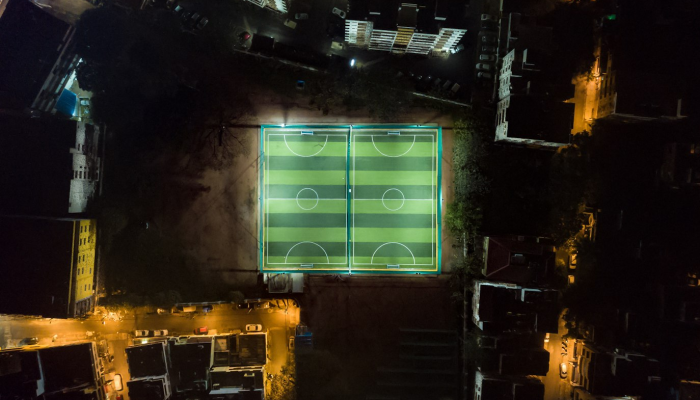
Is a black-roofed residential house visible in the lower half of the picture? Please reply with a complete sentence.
Yes, a black-roofed residential house appears in the lower half of the picture.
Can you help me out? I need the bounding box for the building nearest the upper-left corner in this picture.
[0,0,88,105]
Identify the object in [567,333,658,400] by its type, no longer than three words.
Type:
house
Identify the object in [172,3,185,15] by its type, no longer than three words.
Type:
vehicle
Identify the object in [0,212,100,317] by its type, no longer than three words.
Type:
building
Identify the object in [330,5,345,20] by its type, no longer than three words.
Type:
car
